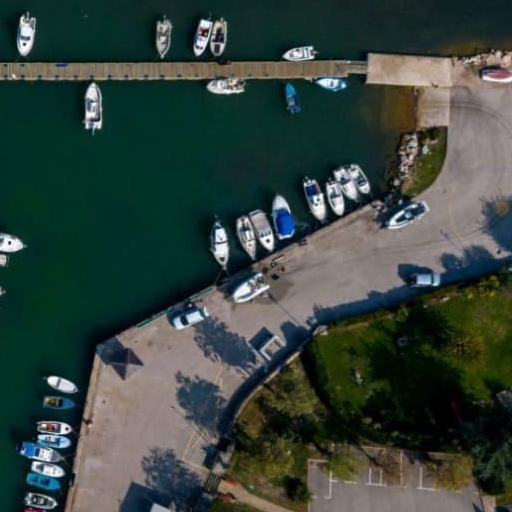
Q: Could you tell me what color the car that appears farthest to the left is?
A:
white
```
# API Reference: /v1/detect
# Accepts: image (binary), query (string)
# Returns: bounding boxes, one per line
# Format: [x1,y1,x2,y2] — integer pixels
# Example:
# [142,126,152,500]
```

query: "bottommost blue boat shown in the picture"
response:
[25,472,61,490]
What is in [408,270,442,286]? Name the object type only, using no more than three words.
vehicle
